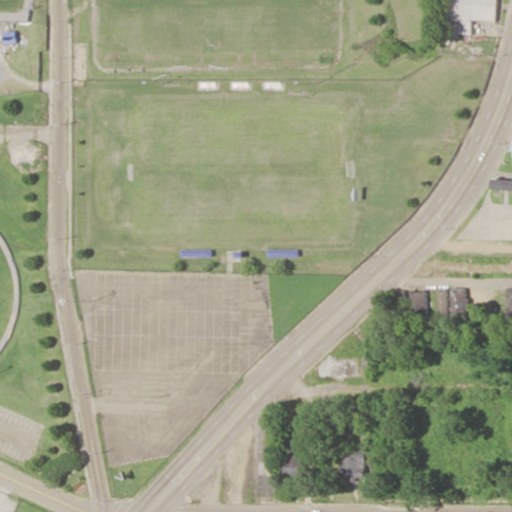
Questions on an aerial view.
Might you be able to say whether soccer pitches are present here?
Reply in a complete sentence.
Yes, this view includes a soccer pitch.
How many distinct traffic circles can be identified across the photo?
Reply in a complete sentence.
The count of traffic circles is 0.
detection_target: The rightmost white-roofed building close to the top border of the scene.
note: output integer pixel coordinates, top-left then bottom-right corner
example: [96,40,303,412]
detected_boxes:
[454,0,497,37]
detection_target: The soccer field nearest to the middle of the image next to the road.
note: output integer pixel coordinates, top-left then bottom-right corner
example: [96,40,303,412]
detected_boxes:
[131,95,348,249]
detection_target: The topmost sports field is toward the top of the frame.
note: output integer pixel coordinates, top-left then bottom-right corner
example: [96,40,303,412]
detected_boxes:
[99,0,337,63]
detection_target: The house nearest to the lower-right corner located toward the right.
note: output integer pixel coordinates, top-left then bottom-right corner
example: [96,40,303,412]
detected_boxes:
[344,454,366,482]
